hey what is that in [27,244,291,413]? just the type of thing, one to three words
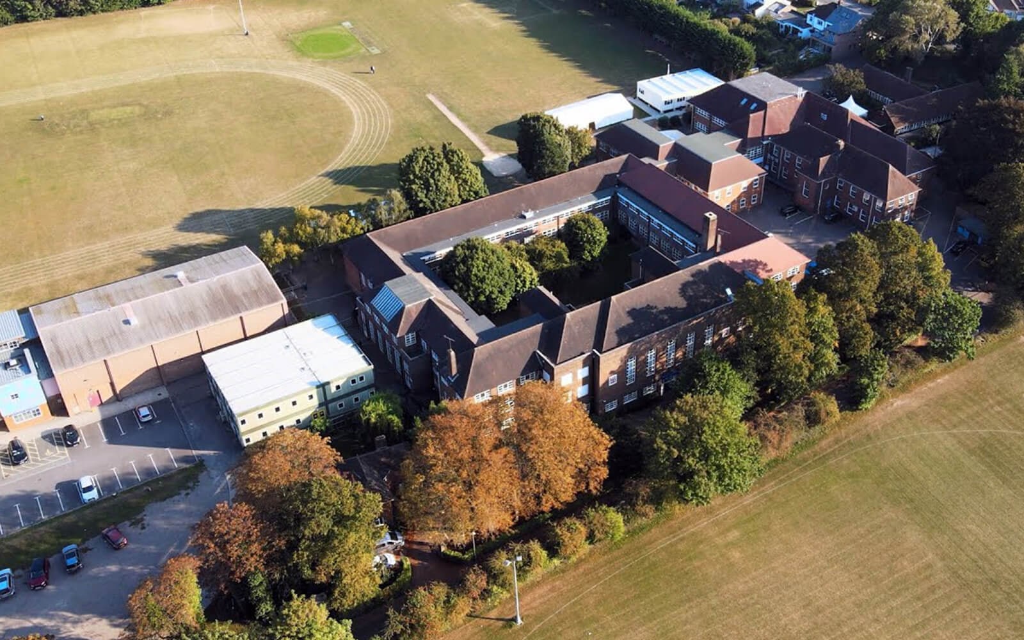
building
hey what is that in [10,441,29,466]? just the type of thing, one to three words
car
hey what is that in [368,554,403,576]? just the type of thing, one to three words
car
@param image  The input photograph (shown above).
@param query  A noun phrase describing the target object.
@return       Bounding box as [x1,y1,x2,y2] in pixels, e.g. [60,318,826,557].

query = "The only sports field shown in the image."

[454,323,1024,640]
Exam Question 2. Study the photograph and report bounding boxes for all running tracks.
[0,60,390,293]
